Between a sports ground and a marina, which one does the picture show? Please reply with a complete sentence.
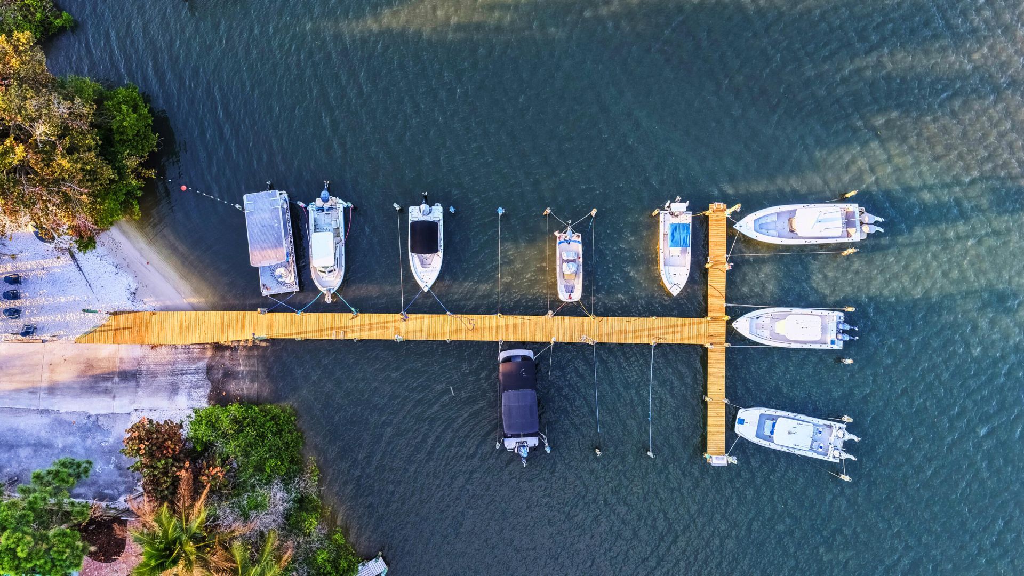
It's a marina.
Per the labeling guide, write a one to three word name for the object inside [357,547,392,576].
pier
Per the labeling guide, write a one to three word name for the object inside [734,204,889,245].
boat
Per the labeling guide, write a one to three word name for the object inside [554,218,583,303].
boat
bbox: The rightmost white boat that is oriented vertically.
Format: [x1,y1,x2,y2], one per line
[658,193,692,296]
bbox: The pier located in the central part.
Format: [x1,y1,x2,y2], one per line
[73,199,741,465]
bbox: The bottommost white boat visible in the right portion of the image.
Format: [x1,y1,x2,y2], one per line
[735,407,865,463]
